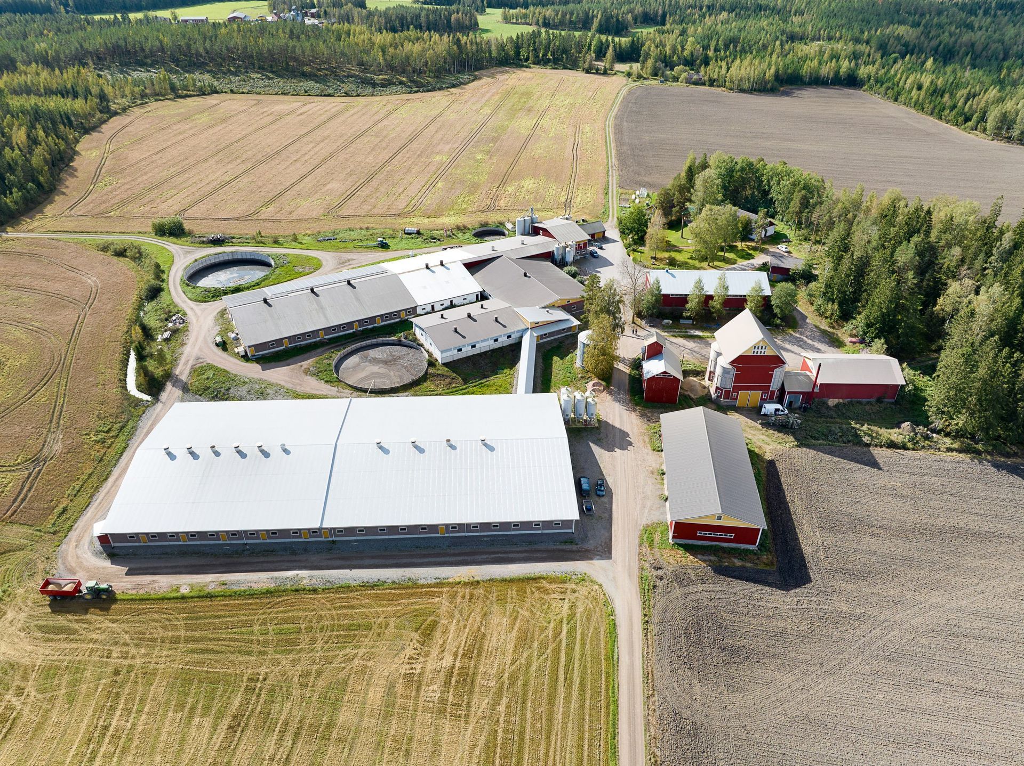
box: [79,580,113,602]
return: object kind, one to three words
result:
work vehicle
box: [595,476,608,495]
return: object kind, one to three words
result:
vehicle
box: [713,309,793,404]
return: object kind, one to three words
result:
barn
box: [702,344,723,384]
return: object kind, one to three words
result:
silo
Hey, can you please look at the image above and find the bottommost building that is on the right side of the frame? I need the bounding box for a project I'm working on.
[659,406,769,550]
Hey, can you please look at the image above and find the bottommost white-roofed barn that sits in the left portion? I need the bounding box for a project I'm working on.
[90,393,579,548]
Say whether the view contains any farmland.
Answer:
Yes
